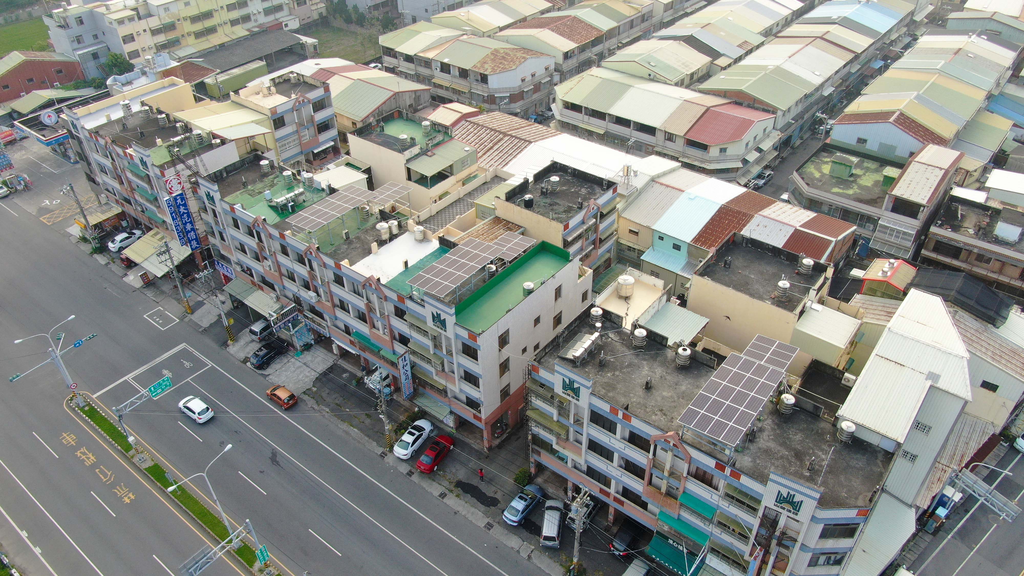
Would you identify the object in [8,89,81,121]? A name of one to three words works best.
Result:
shed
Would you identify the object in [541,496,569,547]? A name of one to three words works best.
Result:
car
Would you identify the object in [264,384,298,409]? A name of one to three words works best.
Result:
car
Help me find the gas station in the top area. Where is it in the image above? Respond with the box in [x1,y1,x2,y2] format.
[14,91,109,164]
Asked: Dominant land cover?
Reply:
buildings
